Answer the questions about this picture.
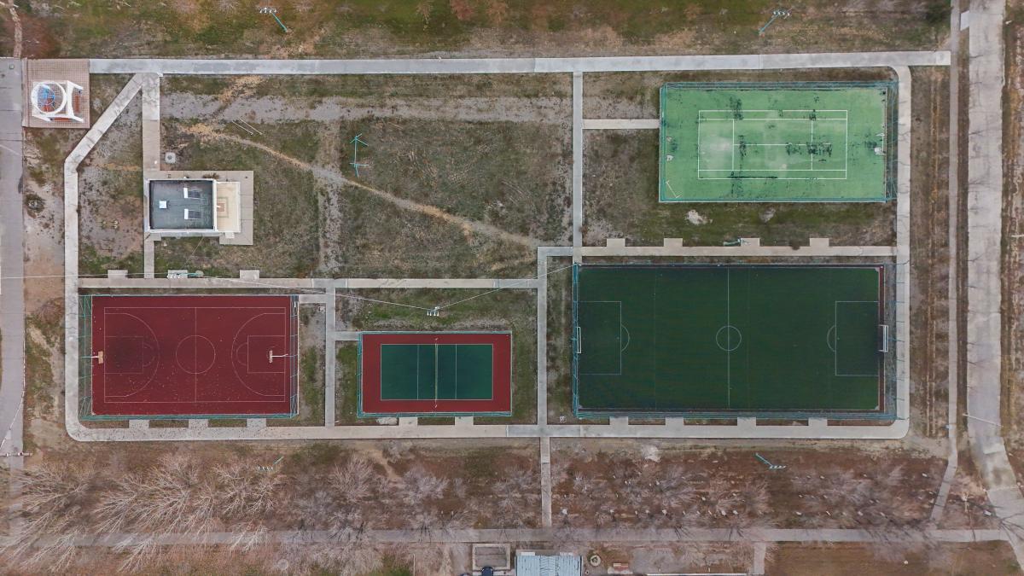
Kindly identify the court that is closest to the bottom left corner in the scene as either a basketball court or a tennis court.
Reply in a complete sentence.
The court that is closest to the bottom left corner in the image is a basketball court.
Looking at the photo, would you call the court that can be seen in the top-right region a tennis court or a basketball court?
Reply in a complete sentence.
Specifically, the court that can be seen in the top-right region is a tennis court.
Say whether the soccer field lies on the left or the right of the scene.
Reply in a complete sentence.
The soccer field appears in the right half of the scene.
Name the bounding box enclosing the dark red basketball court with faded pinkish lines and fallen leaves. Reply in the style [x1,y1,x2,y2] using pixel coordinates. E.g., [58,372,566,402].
[91,296,299,417]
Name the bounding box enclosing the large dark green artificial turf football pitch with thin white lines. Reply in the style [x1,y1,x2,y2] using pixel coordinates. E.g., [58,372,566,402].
[573,263,885,413]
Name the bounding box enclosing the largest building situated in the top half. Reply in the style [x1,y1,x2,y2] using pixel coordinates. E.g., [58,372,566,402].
[148,179,243,239]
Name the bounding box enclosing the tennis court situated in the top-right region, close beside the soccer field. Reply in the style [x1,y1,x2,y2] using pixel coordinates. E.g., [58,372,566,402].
[660,87,887,203]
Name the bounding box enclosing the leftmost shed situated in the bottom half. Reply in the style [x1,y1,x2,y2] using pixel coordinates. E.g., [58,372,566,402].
[473,541,510,569]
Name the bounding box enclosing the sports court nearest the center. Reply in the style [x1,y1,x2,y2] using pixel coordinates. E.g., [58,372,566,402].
[362,333,512,414]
